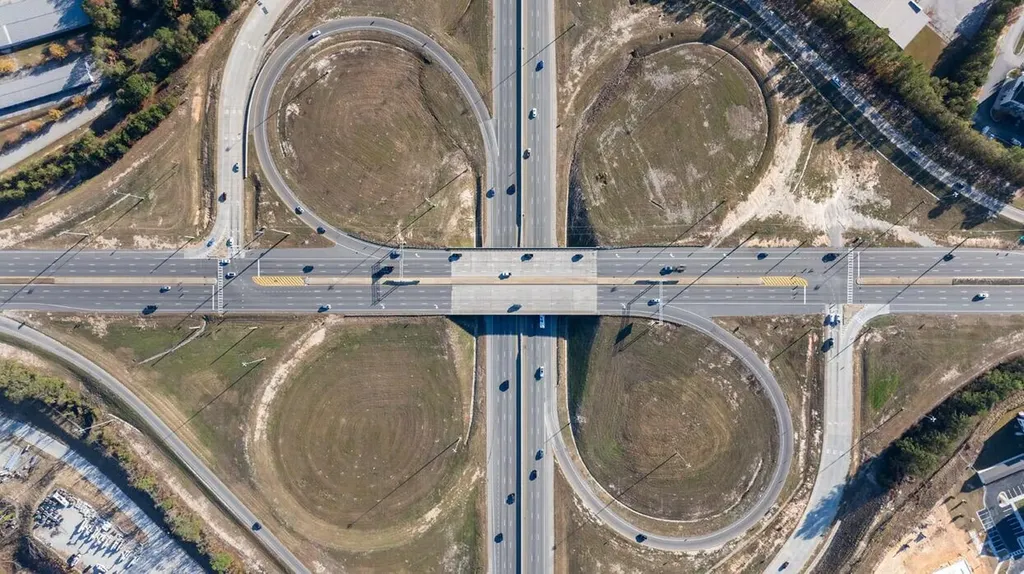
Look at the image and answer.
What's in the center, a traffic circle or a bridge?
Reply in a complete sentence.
The one visible in the center is a bridge.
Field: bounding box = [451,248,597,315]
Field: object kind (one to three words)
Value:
bridge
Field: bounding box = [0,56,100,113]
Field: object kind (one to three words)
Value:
building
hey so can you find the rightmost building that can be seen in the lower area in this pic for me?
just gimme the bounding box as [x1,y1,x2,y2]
[970,448,1024,484]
